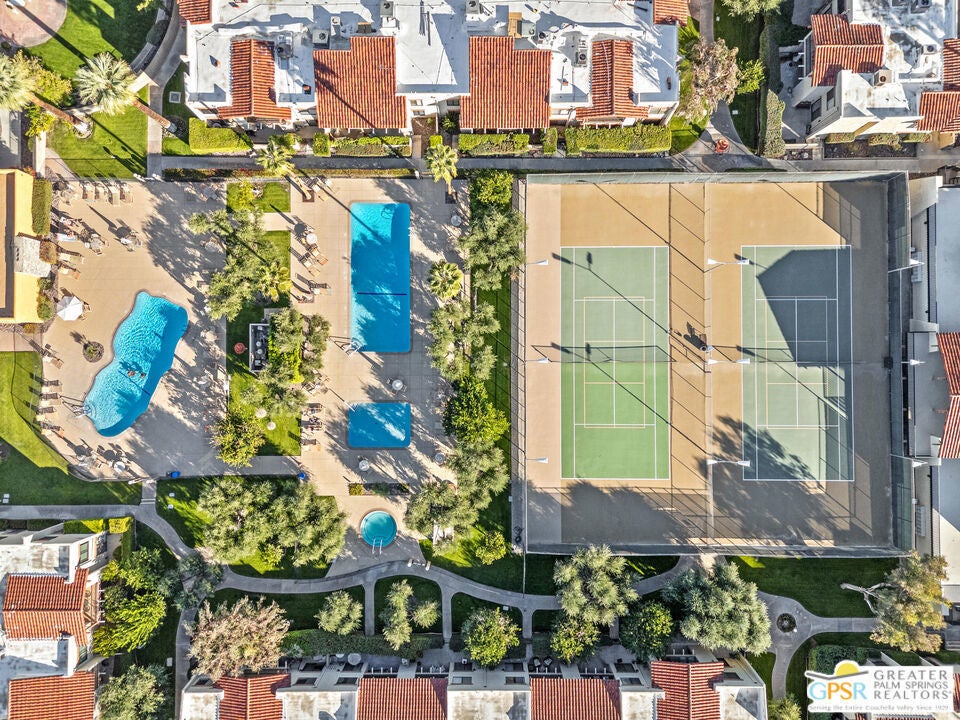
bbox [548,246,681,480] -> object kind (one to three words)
tennis court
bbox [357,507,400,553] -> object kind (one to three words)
swimming pool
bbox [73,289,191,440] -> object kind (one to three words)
swimming pool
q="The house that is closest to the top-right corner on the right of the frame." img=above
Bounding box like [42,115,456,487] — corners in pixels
[785,0,960,158]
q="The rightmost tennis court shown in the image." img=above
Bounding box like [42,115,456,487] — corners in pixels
[733,246,869,481]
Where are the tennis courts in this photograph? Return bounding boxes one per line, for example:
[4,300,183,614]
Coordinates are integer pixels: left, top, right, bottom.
[733,246,869,481]
[548,246,681,480]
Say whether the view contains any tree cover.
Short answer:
Yes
